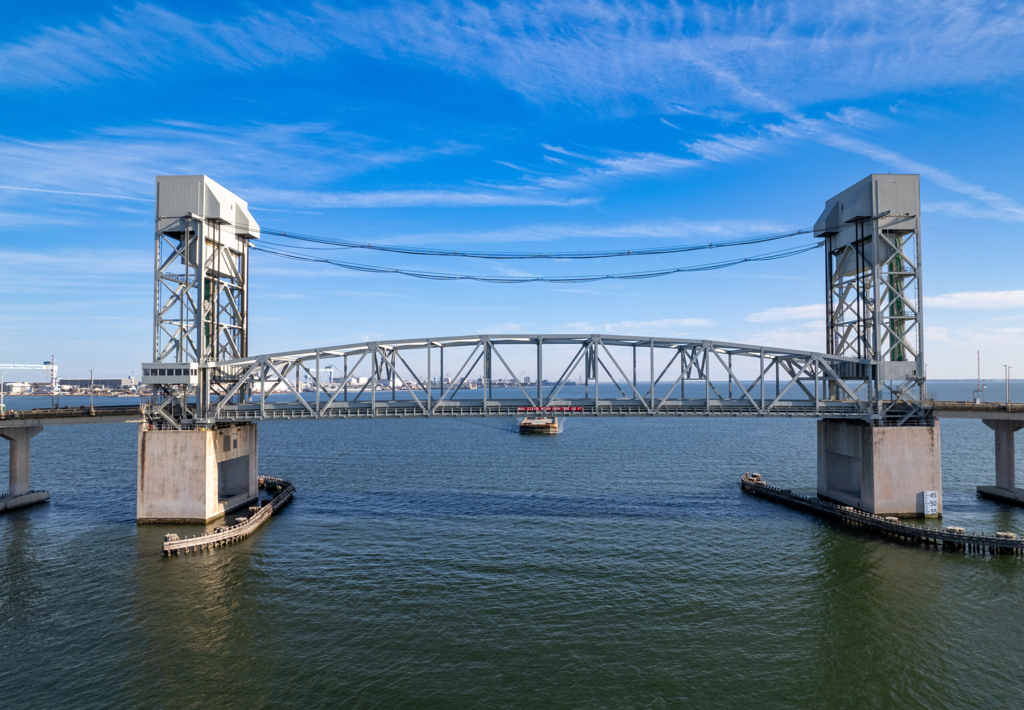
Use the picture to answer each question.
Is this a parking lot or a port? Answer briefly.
port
